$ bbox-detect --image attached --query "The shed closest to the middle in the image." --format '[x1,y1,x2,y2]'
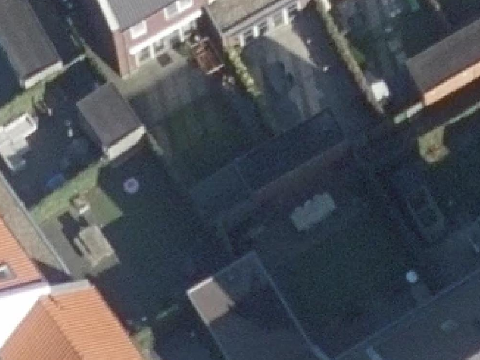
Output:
[235,108,346,210]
